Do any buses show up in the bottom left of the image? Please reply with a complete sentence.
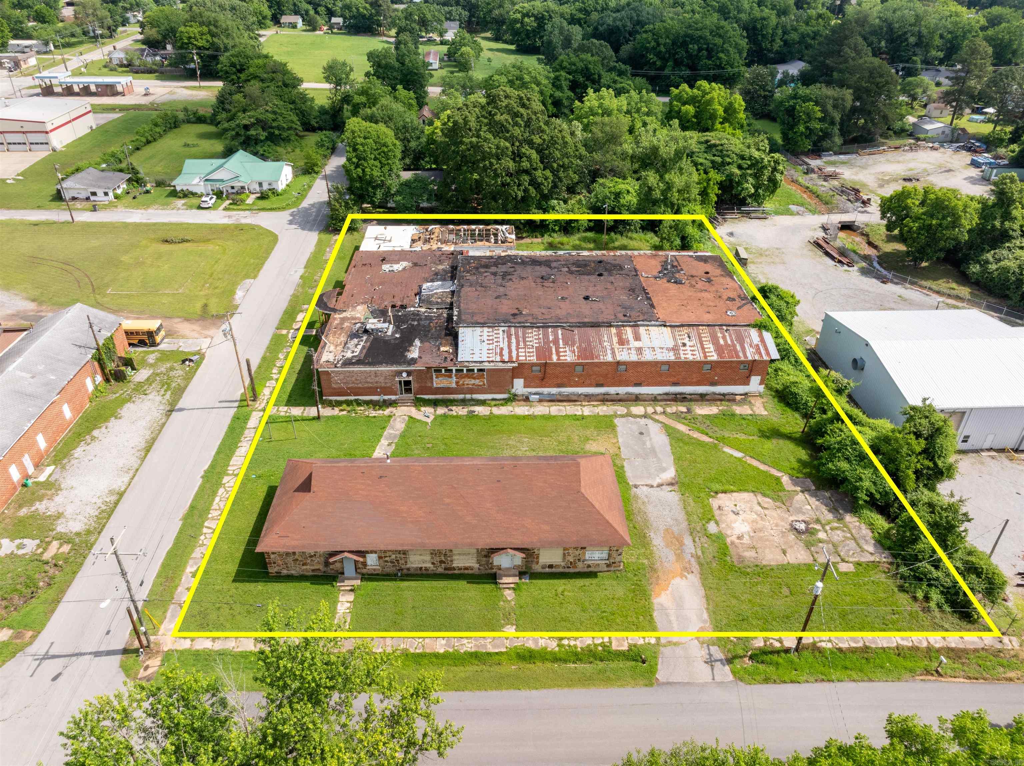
No, no bus appears in the bottom left of the image.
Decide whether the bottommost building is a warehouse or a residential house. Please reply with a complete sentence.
The bottommost building is a residential house.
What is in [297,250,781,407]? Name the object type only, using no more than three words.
building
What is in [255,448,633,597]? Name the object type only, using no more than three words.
house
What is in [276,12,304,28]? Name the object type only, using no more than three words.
house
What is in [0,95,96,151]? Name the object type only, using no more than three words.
building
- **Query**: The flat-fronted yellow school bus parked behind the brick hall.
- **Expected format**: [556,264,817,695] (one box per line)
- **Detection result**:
[122,317,166,346]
